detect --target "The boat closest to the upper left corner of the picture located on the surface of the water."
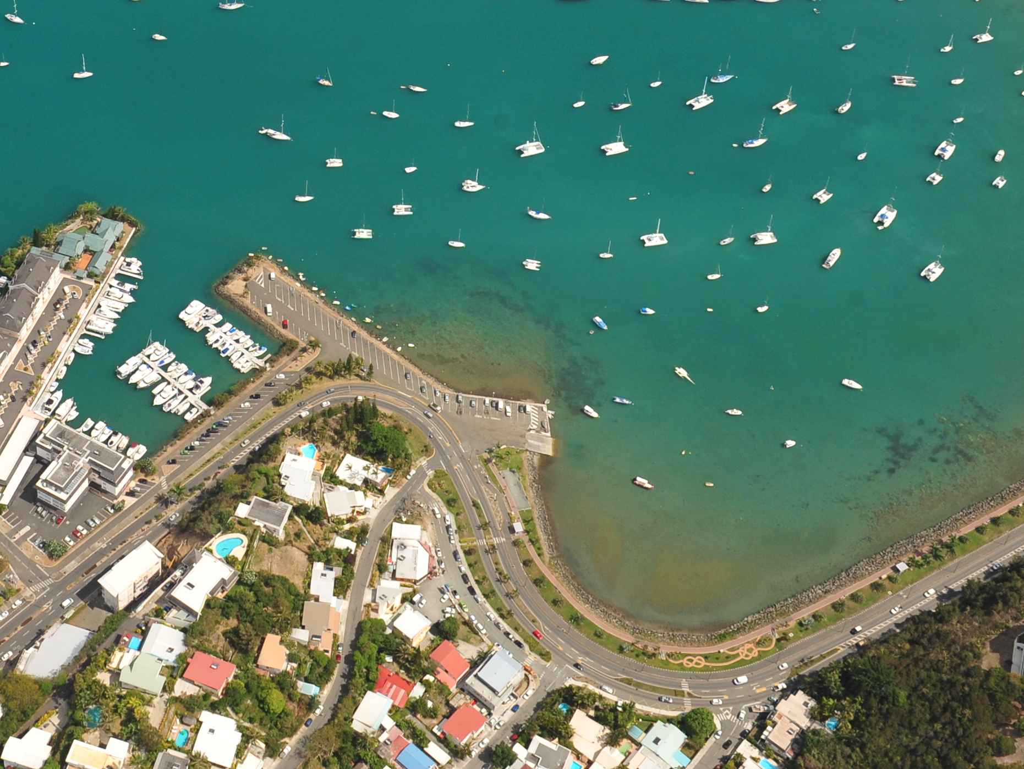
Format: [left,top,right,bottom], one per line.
[3,1,25,23]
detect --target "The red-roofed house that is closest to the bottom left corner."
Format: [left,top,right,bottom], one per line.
[183,651,234,697]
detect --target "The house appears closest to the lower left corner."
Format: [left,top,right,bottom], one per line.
[1,728,52,769]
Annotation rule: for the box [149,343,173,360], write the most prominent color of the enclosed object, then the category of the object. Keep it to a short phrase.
white boat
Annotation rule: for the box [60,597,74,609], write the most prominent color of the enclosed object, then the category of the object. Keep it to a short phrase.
white vehicle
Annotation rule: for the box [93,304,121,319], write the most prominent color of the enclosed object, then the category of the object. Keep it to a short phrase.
white boat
